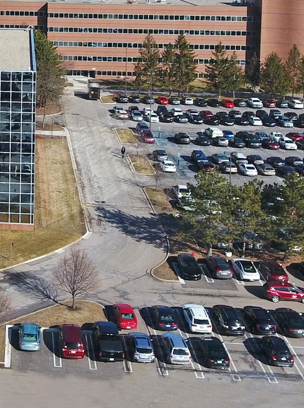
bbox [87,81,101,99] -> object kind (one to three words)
vehicle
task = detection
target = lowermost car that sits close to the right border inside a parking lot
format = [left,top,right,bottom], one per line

[255,335,292,375]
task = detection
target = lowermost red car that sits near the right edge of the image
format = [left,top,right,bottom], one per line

[261,277,304,302]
